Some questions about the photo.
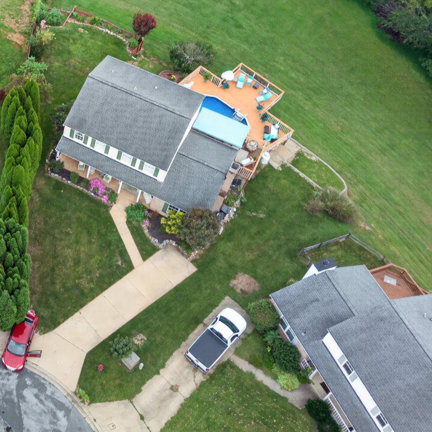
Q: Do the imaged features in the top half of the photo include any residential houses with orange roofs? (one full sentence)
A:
No, there is no residential house with an orange roof in the top half of the photo.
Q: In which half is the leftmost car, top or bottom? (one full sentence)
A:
It is in the bottom half that the leftmost car appears.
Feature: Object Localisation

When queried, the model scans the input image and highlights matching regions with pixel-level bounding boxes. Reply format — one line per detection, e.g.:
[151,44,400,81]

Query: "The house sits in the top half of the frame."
[55,55,239,231]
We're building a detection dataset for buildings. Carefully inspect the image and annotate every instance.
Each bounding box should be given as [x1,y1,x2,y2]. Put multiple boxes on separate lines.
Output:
[272,252,432,432]
[55,55,239,231]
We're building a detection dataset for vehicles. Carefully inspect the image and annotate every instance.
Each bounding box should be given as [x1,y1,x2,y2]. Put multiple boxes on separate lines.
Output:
[182,307,247,375]
[4,307,46,376]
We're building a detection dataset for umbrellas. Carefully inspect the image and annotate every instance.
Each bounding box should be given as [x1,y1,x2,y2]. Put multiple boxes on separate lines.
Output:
[220,73,236,92]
